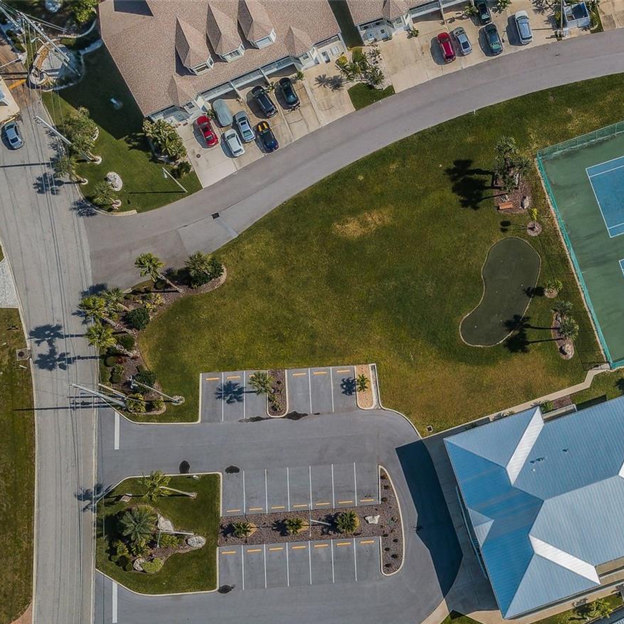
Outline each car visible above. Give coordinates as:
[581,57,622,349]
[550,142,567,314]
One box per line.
[254,87,274,119]
[198,121,217,146]
[278,77,299,108]
[453,27,471,56]
[516,11,532,45]
[236,112,255,142]
[257,123,277,154]
[474,0,491,25]
[484,25,502,56]
[437,32,455,63]
[4,120,25,151]
[225,129,245,159]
